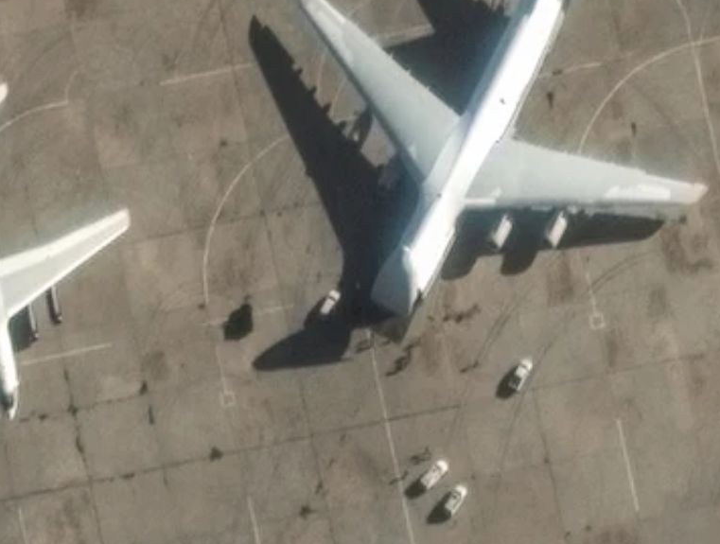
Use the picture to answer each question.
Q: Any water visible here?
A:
No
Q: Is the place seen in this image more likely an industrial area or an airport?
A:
airport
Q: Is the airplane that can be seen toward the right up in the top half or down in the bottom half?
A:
top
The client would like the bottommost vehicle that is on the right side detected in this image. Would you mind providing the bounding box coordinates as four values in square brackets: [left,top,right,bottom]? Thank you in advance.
[442,487,467,517]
